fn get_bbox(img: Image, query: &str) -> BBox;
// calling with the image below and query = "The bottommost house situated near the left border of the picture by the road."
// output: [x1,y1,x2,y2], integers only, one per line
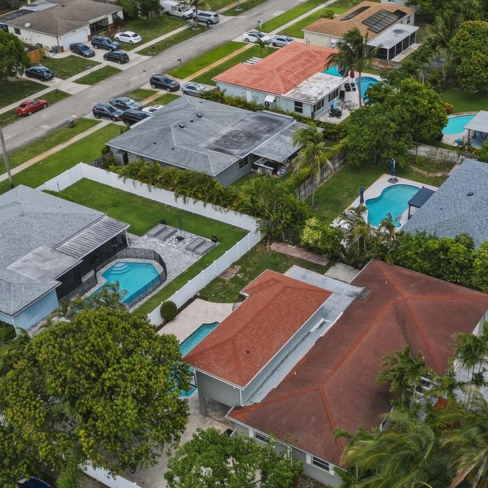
[0,184,134,335]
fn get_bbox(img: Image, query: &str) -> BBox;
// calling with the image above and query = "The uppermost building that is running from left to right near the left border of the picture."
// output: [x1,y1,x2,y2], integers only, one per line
[0,0,131,53]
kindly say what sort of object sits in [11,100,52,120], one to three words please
car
